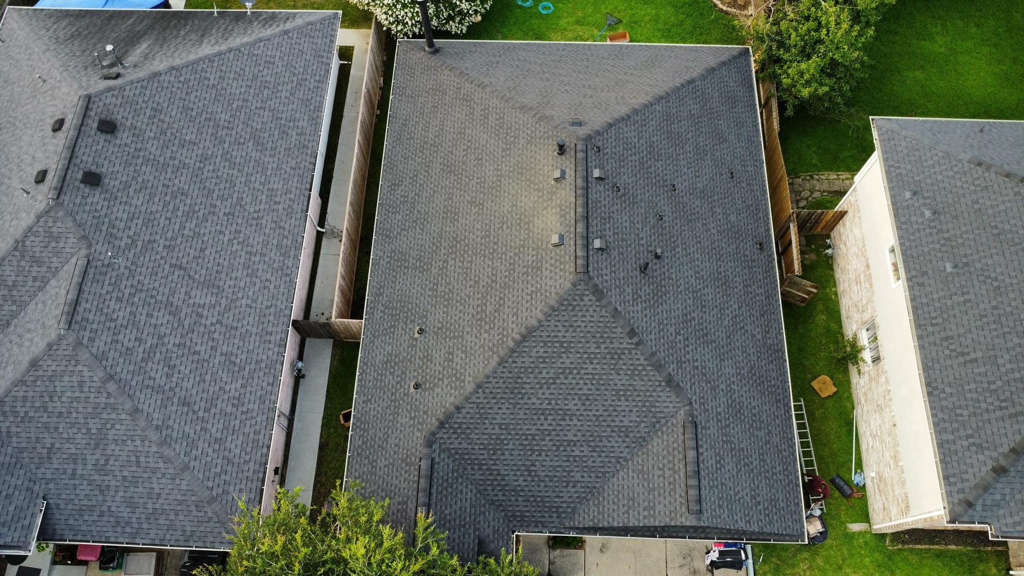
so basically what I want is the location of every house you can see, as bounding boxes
[828,117,1024,541]
[338,0,807,576]
[0,0,354,551]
